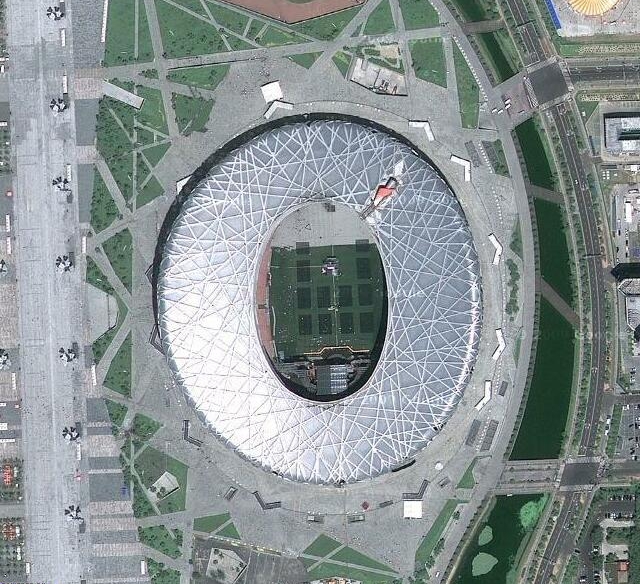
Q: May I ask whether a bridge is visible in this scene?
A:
Yes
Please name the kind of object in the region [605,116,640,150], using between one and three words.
building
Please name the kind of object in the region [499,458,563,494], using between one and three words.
bridge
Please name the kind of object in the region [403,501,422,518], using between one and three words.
tent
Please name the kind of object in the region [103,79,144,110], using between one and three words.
building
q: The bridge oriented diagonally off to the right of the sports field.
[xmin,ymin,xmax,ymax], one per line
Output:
[534,276,582,327]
